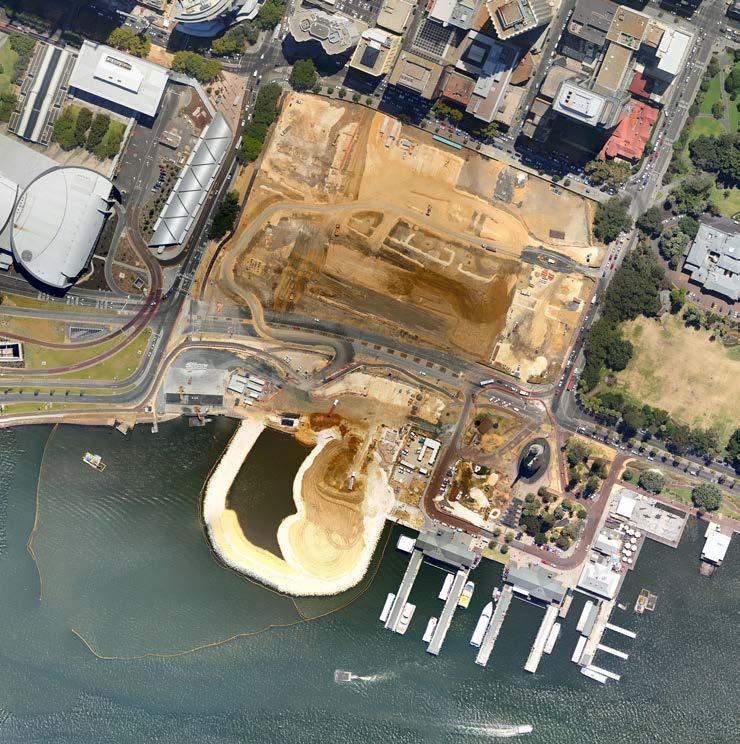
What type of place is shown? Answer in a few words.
port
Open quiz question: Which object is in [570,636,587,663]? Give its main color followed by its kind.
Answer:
white ship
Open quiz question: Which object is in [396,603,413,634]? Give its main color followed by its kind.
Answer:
white ship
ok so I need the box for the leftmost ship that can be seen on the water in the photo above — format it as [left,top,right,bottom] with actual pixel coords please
[84,453,107,471]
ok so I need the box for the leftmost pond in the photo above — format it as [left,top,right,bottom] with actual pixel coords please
[226,424,320,562]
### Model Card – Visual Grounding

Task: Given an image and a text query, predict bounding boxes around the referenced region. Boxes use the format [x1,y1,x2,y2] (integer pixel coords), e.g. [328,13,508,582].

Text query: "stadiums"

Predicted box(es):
[10,163,120,290]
